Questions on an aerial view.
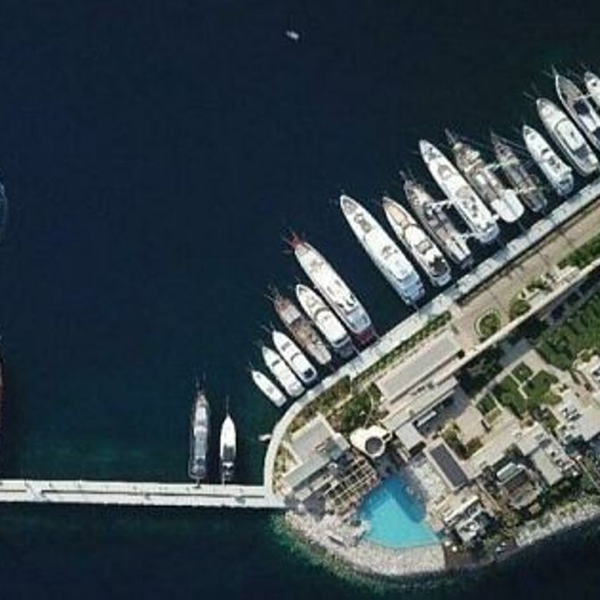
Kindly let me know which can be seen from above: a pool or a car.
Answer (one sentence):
Visible in the photo is a pool.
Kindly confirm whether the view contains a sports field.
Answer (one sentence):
No, there's no sports field here.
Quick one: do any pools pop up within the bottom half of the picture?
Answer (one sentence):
Yes, looking within the bottom half of the picture, one can make out a pool.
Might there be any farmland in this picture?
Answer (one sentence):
No, the picture contains no farmland.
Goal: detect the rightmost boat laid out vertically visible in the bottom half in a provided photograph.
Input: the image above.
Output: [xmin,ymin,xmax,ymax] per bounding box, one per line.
[219,405,238,487]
